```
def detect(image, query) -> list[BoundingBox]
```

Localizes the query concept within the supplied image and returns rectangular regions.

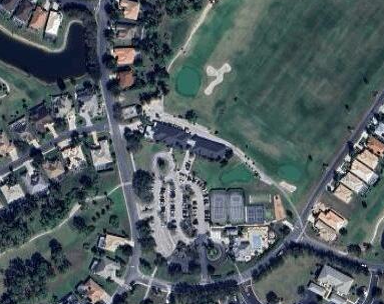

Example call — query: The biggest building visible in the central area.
[152,122,235,164]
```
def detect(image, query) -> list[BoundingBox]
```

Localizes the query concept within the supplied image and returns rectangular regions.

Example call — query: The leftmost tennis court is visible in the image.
[210,189,227,224]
